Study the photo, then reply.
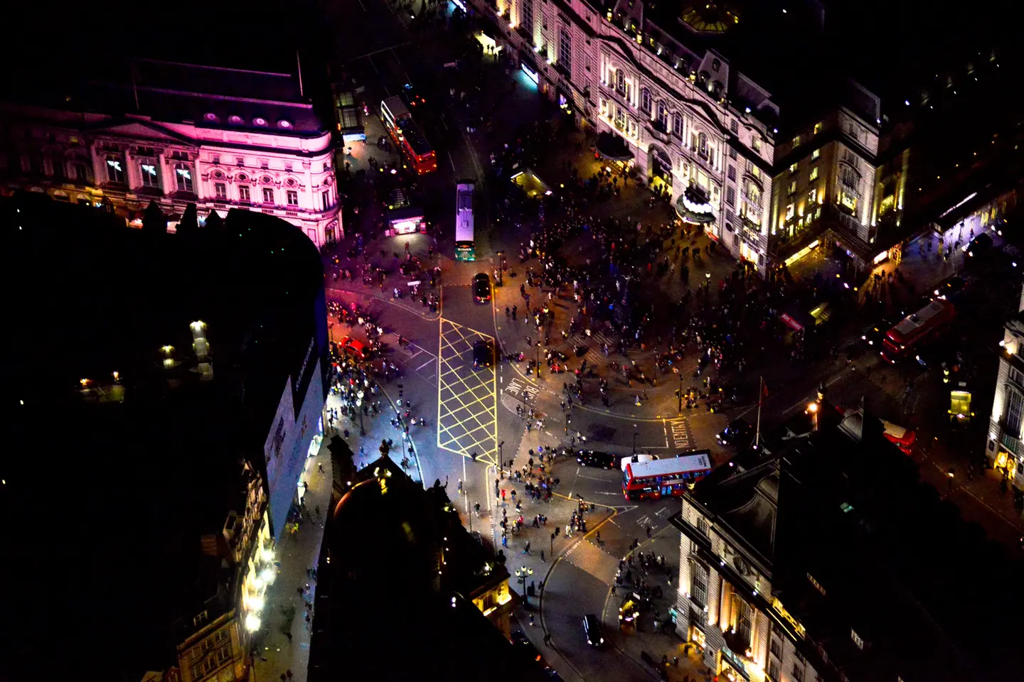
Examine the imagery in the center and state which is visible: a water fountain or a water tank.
water fountain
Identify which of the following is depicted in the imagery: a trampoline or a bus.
bus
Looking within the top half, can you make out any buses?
Yes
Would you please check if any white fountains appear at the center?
No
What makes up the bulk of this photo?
buildings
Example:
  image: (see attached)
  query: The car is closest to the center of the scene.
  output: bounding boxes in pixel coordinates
[475,341,493,367]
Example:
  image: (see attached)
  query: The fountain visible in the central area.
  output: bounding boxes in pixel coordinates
[589,276,646,342]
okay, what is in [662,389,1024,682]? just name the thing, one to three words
building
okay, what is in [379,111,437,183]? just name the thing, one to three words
bus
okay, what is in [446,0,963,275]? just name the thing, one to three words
building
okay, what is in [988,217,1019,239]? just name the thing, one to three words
car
